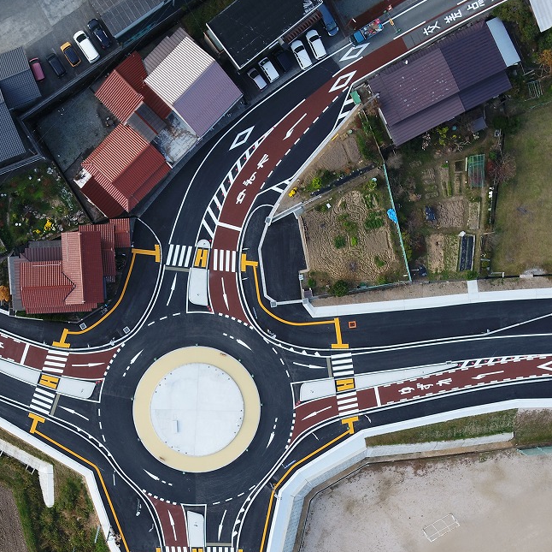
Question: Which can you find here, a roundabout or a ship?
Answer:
roundabout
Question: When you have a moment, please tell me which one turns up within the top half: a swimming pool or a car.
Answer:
car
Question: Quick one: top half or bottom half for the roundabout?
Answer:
bottom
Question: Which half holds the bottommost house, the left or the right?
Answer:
left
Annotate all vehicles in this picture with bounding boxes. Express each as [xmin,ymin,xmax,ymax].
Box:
[87,16,112,53]
[349,18,385,46]
[73,28,101,67]
[304,29,327,63]
[246,67,269,93]
[258,58,280,85]
[289,40,313,74]
[28,57,45,85]
[61,42,80,70]
[317,1,340,39]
